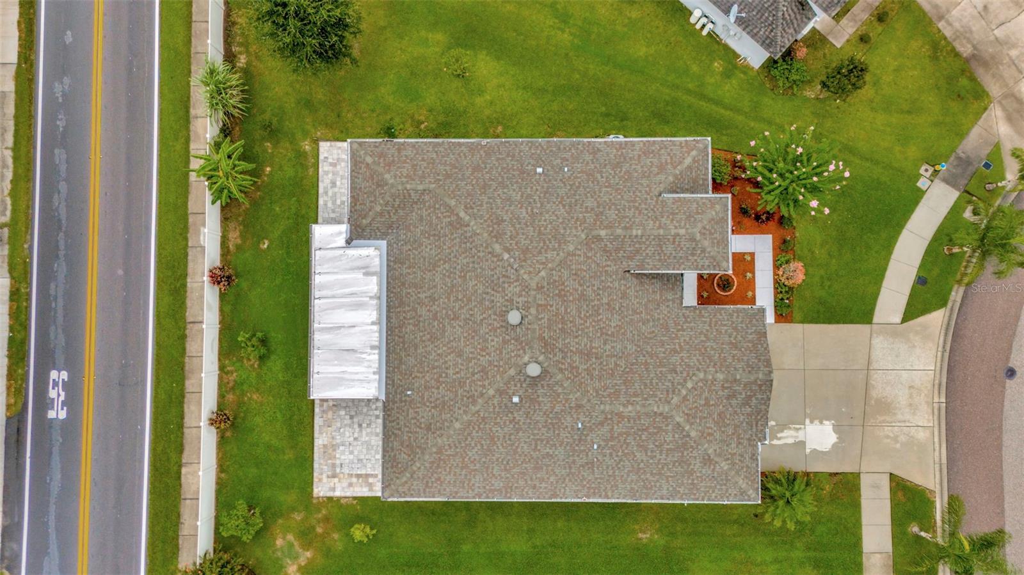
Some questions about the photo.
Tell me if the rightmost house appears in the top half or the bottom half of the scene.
top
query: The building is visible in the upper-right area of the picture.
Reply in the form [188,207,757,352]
[682,0,846,67]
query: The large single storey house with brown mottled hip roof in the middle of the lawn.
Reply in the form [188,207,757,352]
[310,136,776,504]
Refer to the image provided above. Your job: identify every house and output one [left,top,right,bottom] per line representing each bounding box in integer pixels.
[310,136,776,504]
[682,0,846,67]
